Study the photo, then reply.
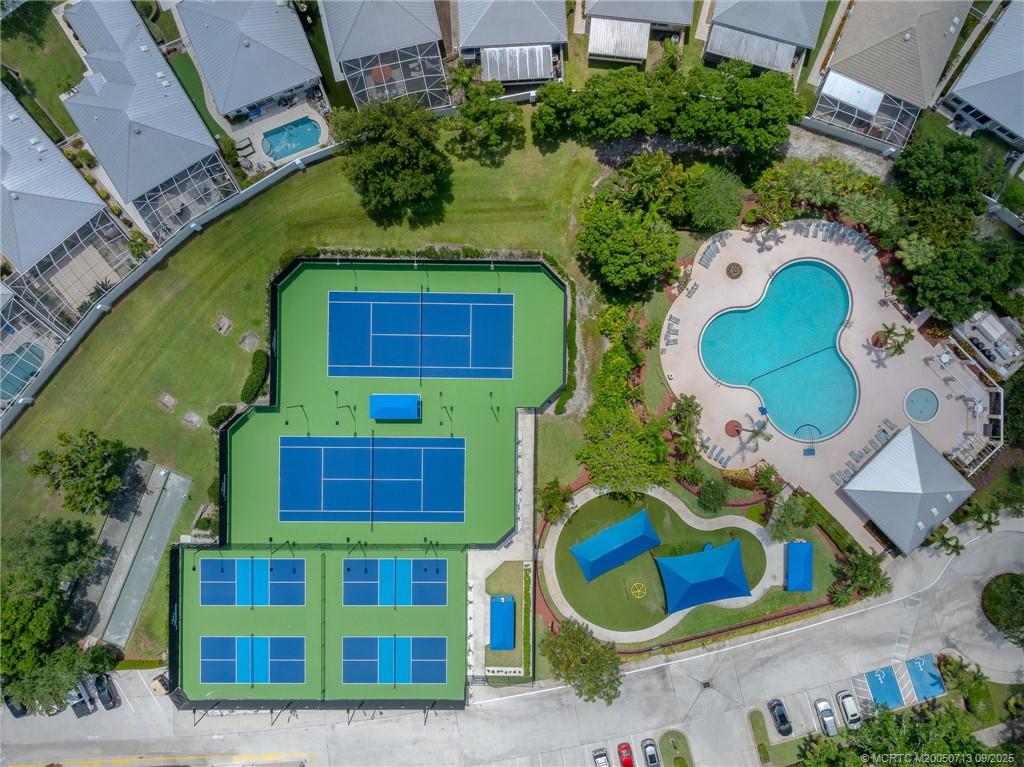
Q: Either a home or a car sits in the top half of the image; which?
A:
home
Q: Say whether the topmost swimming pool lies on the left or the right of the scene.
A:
left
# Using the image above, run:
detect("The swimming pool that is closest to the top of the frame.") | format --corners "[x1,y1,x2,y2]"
[260,114,322,162]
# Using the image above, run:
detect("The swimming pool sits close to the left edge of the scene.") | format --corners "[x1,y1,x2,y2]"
[0,341,45,398]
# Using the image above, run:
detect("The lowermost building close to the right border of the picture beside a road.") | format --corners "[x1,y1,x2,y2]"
[837,424,976,555]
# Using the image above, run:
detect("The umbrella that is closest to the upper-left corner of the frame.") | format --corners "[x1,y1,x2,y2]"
[371,64,392,85]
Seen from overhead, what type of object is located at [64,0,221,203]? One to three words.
house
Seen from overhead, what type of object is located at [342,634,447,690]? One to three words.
sports court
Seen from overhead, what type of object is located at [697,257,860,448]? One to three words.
swimming pool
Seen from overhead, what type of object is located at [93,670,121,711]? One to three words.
car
